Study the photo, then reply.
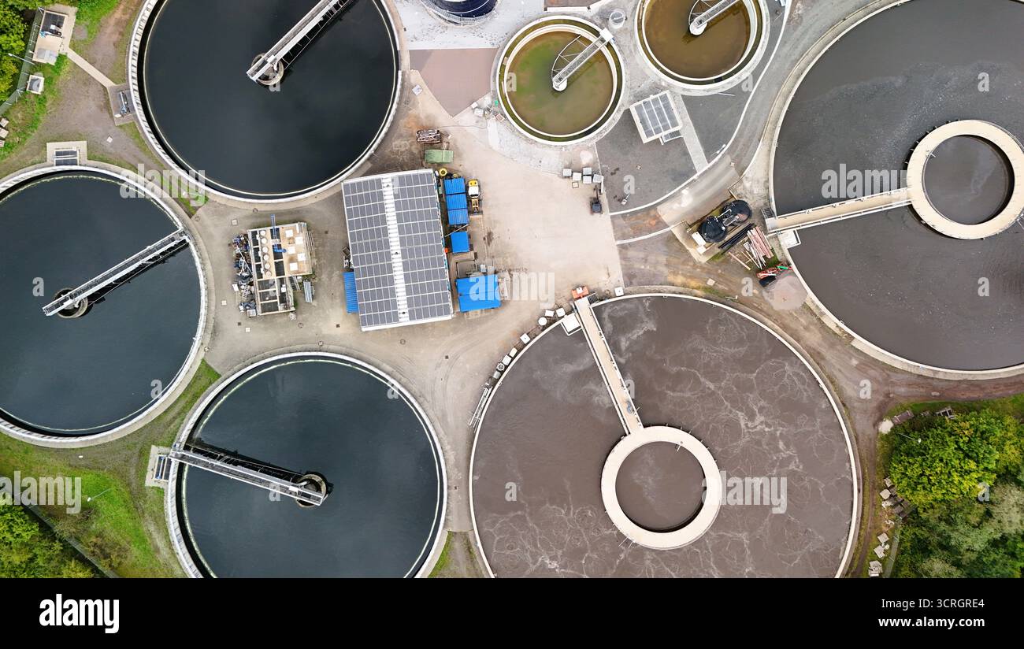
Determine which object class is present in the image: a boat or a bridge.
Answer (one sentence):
The one in the frame is a bridge.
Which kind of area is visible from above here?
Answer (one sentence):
This image shows an industrial area.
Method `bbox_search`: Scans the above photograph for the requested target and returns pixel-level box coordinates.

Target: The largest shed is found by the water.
[341,169,453,331]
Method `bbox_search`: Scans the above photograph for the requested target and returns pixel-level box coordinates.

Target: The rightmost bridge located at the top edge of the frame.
[689,0,742,36]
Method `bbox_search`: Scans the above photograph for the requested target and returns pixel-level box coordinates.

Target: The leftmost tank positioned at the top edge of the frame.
[129,0,403,204]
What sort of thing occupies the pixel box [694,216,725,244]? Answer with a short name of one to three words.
storage tank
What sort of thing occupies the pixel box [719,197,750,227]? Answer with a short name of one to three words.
storage tank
